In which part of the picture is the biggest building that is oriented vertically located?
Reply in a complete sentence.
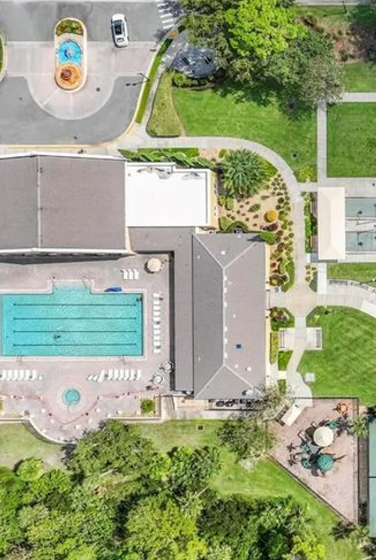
The biggest building that is oriented vertically is located in the right region of the scene.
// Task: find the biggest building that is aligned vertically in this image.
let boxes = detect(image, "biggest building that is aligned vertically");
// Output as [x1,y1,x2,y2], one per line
[319,188,347,260]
